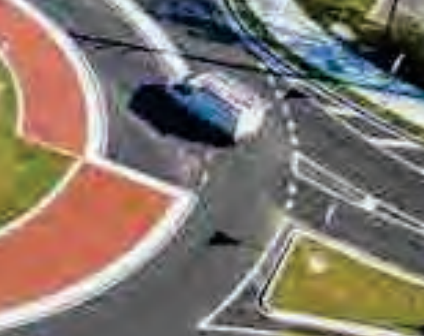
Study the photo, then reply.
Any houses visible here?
No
